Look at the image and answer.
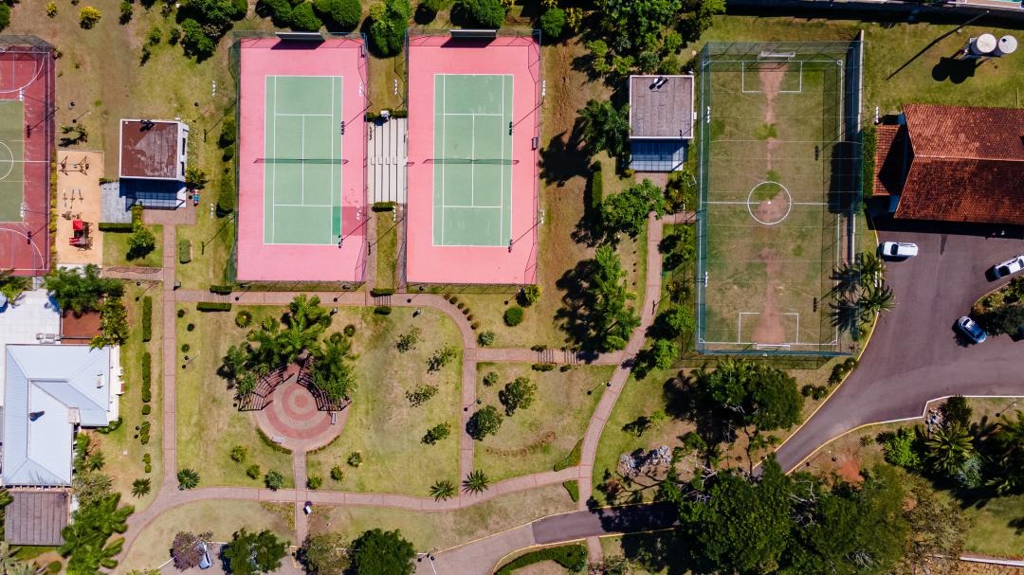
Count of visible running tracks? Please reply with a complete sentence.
There are no running tracks in this view.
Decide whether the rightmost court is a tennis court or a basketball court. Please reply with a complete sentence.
From above, the rightmost court can be identified as a tennis court.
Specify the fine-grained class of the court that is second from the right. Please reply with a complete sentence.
The court that is second from the right can be classified as a tennis court.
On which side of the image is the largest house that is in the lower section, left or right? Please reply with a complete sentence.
The largest house that is in the lower section sits on the left side.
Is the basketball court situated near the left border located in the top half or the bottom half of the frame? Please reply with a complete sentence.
The basketball court situated near the left border sits in the top half of the picture.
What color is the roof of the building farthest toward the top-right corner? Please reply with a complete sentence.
From above, the roof of the building farthest toward the top-right corner looks red.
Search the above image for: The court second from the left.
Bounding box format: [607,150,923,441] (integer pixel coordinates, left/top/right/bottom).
[237,38,366,282]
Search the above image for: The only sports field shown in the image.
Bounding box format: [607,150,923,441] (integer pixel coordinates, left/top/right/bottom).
[695,54,845,352]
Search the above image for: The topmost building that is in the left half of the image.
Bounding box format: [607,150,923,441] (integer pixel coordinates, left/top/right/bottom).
[119,119,191,208]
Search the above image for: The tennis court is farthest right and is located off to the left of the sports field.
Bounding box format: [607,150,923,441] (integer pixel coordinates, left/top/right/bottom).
[406,36,539,284]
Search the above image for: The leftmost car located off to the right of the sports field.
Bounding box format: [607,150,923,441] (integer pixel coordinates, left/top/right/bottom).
[880,240,919,257]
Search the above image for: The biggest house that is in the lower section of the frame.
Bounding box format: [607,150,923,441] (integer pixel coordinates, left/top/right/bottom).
[3,344,118,487]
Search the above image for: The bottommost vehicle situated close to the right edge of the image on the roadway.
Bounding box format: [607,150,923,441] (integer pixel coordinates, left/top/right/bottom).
[955,315,985,344]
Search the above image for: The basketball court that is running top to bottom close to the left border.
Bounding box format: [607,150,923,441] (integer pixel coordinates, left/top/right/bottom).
[0,46,55,276]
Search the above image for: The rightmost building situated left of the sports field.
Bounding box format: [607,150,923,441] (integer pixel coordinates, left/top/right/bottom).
[625,75,694,171]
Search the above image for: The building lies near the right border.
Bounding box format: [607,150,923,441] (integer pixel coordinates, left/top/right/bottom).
[869,104,1024,226]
